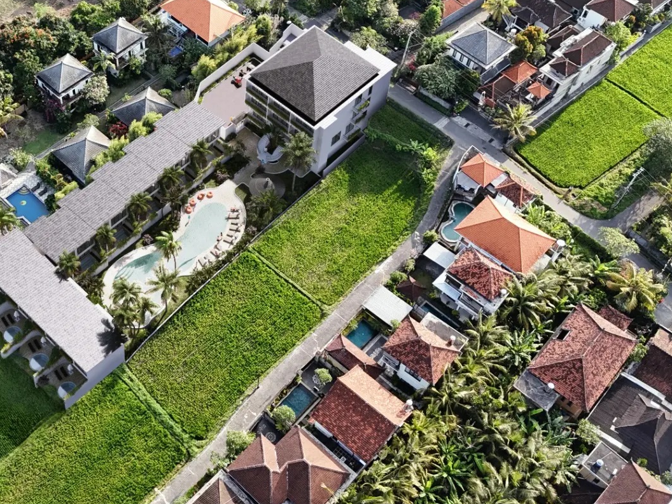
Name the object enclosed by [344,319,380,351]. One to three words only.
swimming pool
